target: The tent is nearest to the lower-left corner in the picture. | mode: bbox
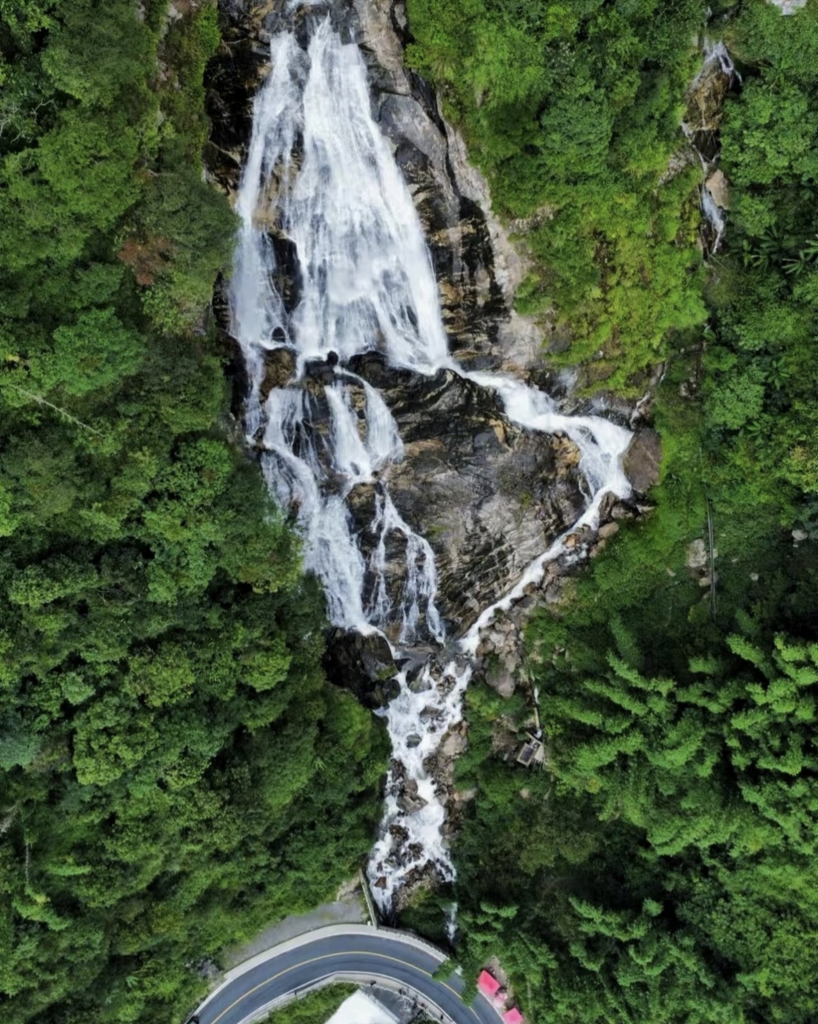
[326,985,410,1024]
